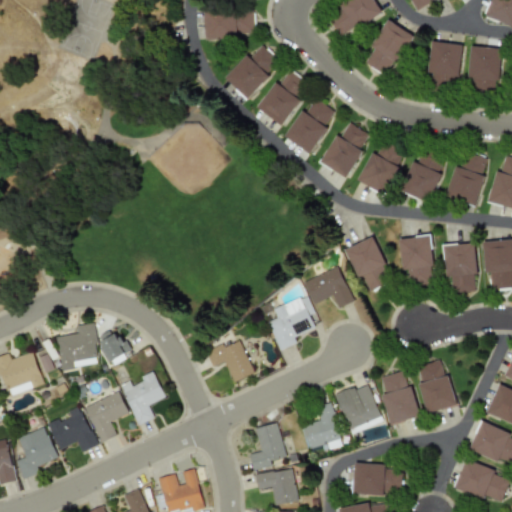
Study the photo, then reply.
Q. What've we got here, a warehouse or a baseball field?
baseball field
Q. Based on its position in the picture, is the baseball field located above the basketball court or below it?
below it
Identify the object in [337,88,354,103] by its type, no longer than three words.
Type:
vehicle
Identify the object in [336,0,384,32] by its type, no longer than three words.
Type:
house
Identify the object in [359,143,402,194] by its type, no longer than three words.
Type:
house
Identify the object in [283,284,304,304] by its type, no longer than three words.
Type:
swimming pool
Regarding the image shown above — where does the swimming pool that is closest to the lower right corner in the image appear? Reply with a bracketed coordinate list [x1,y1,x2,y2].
[364,424,389,442]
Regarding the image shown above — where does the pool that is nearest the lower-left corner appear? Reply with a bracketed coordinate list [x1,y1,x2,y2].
[14,394,34,412]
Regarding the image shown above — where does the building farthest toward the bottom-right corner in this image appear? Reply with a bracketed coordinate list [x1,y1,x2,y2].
[456,460,510,502]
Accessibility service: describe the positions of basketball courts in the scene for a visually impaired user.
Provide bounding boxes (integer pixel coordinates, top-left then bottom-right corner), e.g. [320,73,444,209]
[58,0,114,57]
